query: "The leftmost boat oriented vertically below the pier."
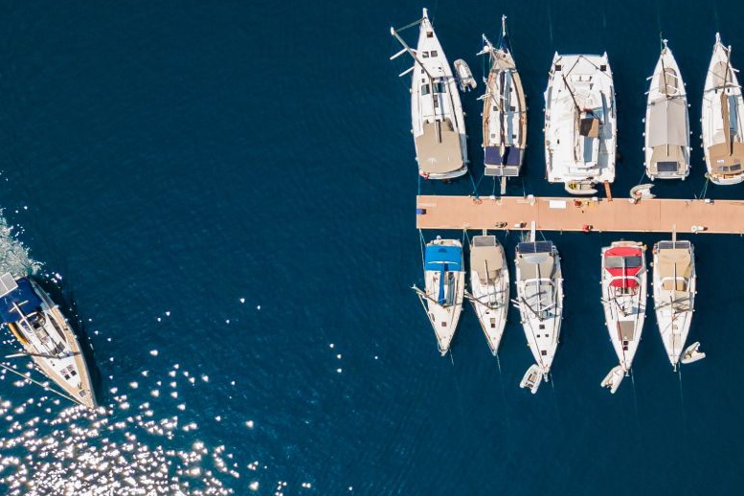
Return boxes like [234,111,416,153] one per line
[412,229,468,359]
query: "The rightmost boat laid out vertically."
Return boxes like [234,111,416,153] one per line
[699,31,744,198]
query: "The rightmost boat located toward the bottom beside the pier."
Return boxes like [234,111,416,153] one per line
[649,226,698,375]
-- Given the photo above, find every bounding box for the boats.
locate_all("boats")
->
[412,229,468,359]
[513,225,565,381]
[680,343,706,365]
[525,41,622,201]
[453,58,474,90]
[564,182,599,195]
[599,230,649,379]
[649,226,698,375]
[463,225,509,362]
[474,15,530,196]
[630,184,654,199]
[0,269,99,413]
[602,366,623,393]
[639,36,693,183]
[699,31,744,198]
[389,5,475,194]
[521,364,542,393]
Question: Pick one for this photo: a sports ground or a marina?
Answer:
marina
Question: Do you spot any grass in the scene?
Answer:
No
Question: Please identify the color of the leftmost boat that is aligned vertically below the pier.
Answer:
white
